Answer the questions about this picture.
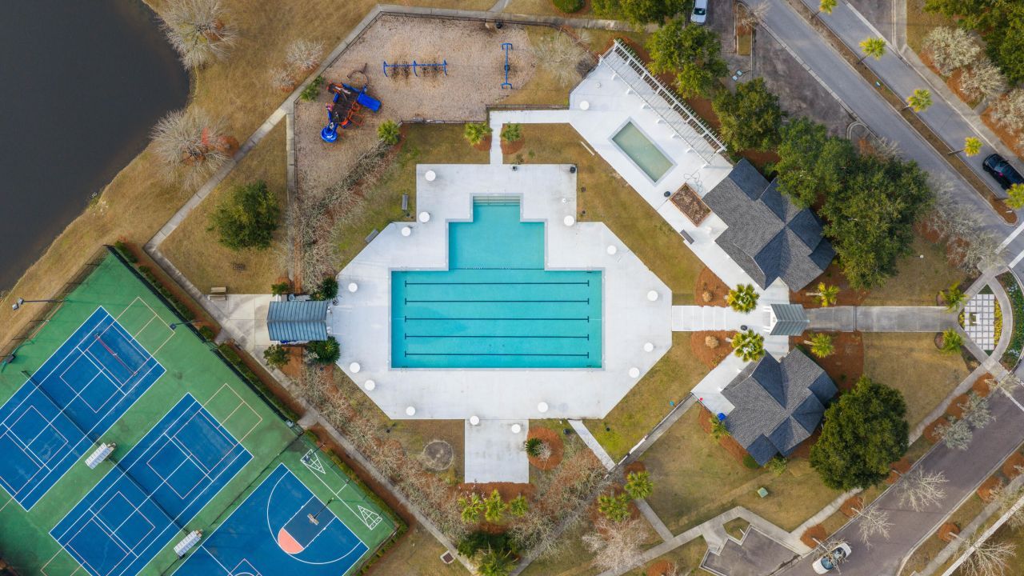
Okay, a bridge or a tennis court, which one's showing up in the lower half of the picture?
tennis court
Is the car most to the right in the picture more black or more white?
black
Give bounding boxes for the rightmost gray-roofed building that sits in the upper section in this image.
[702,159,833,292]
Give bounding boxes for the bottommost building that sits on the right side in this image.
[721,348,838,466]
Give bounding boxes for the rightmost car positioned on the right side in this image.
[987,156,1024,192]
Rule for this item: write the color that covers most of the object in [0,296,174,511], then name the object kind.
blue tennis court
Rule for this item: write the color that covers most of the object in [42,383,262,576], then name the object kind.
blue tennis court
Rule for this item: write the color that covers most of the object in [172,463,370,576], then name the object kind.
blue basketball court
